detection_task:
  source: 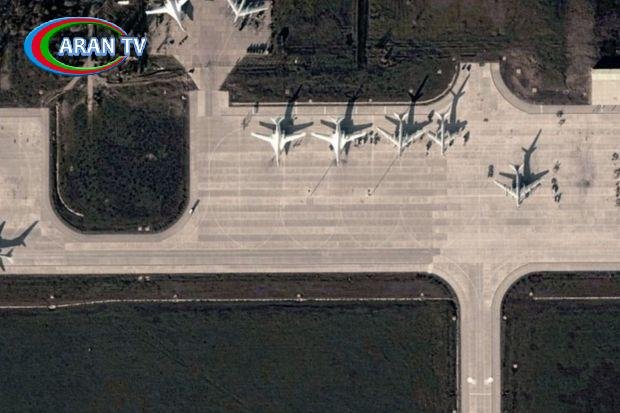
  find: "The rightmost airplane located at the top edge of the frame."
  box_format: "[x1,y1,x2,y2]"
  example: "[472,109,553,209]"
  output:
[226,0,267,22]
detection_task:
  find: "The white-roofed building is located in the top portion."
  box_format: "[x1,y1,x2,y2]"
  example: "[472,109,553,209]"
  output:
[592,68,620,105]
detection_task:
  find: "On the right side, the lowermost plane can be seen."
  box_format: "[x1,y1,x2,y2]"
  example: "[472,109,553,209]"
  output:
[493,161,542,206]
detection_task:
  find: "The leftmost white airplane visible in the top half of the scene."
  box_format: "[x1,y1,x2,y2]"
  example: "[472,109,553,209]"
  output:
[143,0,185,31]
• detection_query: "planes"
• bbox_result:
[143,0,185,31]
[376,112,425,157]
[310,116,366,165]
[226,0,267,22]
[0,249,13,263]
[493,161,542,206]
[249,116,305,165]
[427,111,459,158]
